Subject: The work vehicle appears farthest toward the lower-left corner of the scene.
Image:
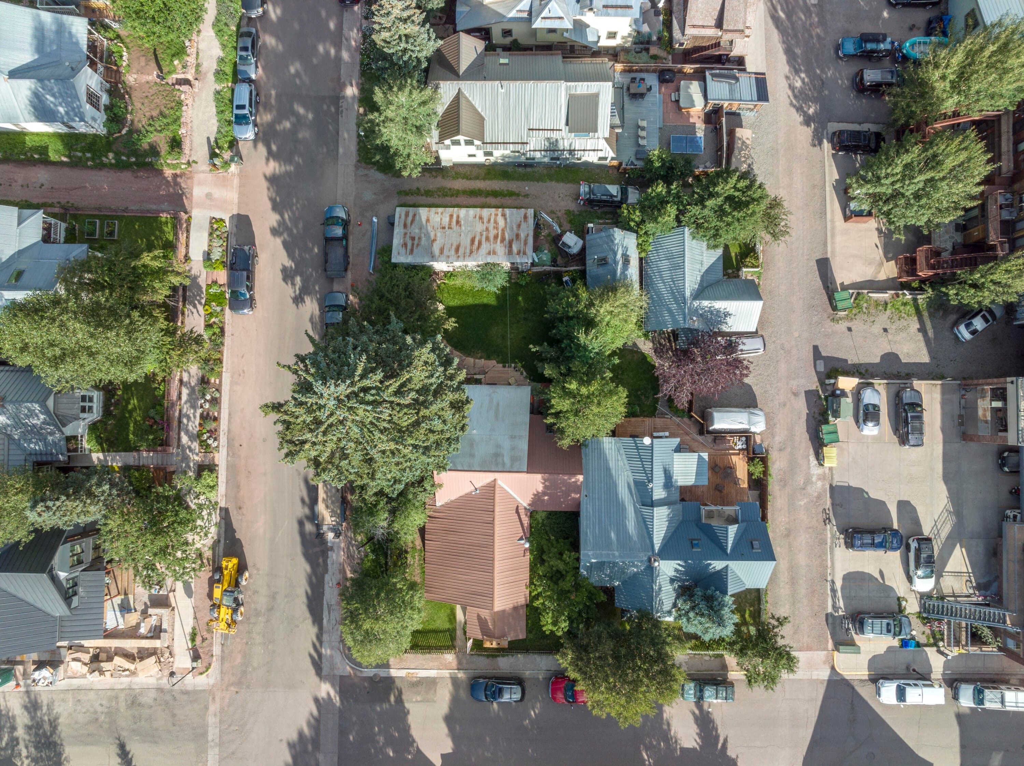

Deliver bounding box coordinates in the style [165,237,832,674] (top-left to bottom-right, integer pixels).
[210,561,249,644]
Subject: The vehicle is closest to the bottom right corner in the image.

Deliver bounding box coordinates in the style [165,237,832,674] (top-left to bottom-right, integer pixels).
[947,677,1024,710]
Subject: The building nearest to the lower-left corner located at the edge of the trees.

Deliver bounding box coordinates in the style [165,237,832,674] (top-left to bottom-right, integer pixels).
[0,523,121,658]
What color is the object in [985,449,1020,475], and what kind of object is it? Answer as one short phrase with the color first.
black car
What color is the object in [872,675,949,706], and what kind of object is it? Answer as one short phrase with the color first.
white vehicle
